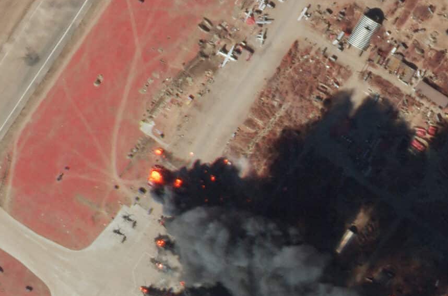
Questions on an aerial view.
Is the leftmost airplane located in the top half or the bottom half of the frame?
top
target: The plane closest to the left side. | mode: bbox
[217,47,238,67]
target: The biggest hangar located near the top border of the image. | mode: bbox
[348,13,380,50]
